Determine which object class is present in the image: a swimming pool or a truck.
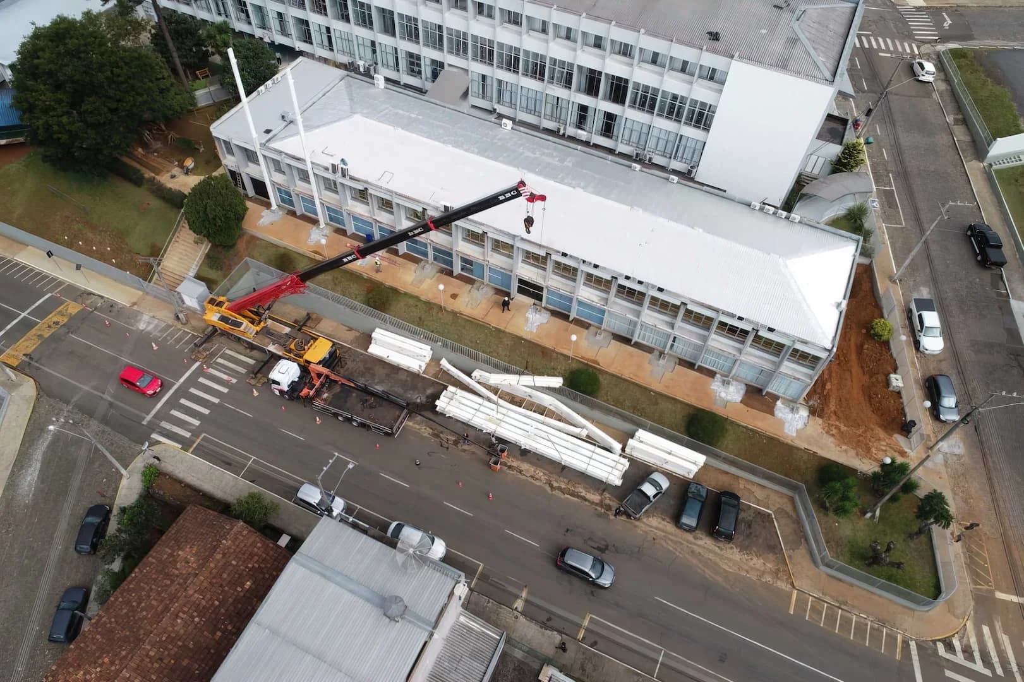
truck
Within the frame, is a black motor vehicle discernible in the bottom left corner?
Yes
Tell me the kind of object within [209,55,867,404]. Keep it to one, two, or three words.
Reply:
building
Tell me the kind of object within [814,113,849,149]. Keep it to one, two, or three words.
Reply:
shed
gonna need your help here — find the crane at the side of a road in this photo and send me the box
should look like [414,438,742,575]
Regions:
[191,179,546,387]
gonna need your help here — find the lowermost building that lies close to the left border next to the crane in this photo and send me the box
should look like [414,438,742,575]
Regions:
[43,503,290,682]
